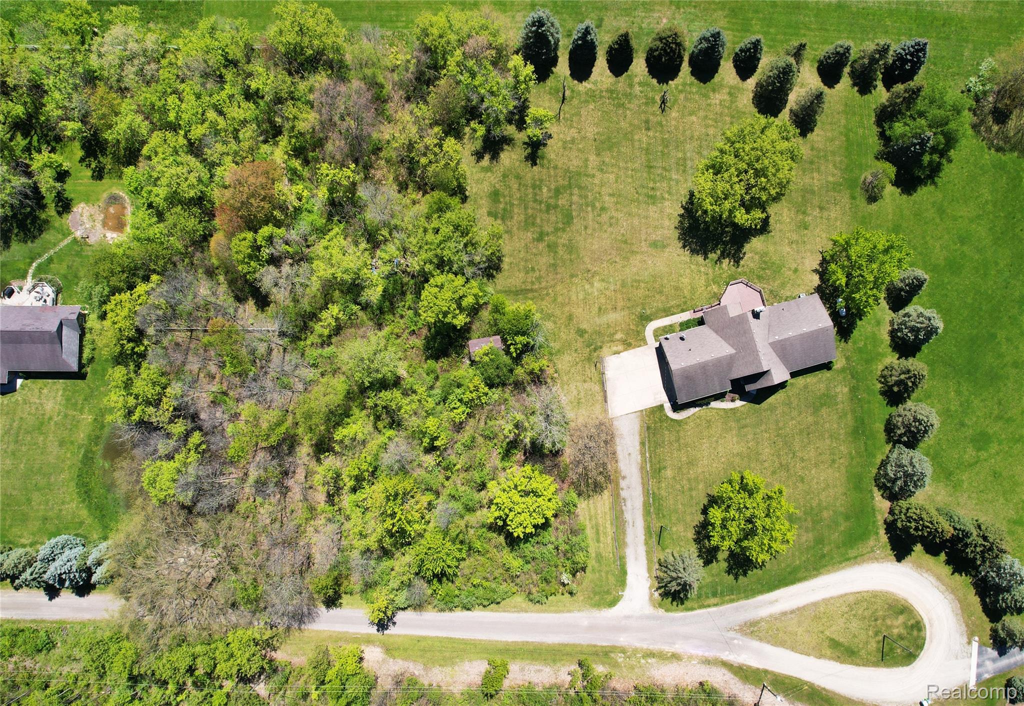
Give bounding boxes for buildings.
[658,292,837,404]
[0,305,91,384]
[469,336,503,362]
